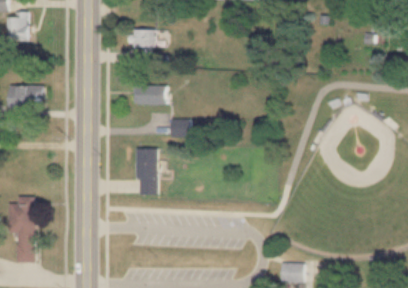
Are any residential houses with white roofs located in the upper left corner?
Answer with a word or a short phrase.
Yes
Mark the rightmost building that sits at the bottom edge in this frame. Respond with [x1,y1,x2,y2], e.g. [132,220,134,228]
[281,262,306,284]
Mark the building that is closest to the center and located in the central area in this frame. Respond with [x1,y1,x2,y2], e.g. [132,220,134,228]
[170,118,192,137]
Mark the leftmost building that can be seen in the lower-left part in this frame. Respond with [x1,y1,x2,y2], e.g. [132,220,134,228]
[10,195,38,262]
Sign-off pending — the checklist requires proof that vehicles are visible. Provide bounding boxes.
[77,262,82,274]
[157,128,171,133]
